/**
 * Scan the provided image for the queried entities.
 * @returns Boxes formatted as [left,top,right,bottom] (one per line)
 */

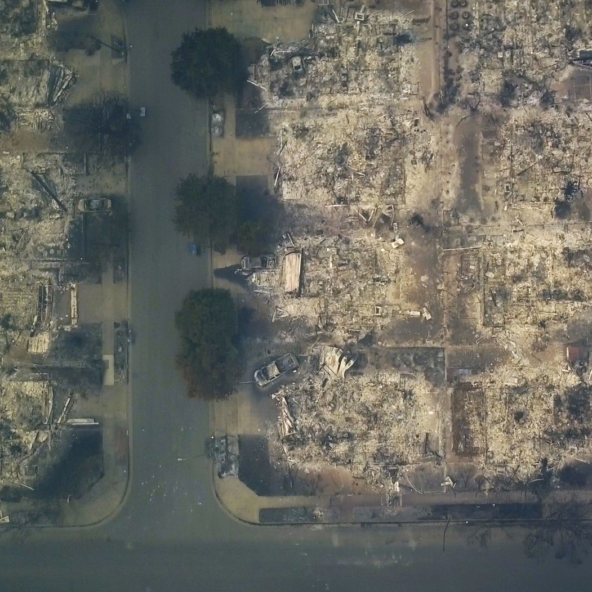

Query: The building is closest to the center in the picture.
[247,227,411,338]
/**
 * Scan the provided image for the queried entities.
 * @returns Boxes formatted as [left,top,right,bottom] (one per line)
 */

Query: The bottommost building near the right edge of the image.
[478,369,592,480]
